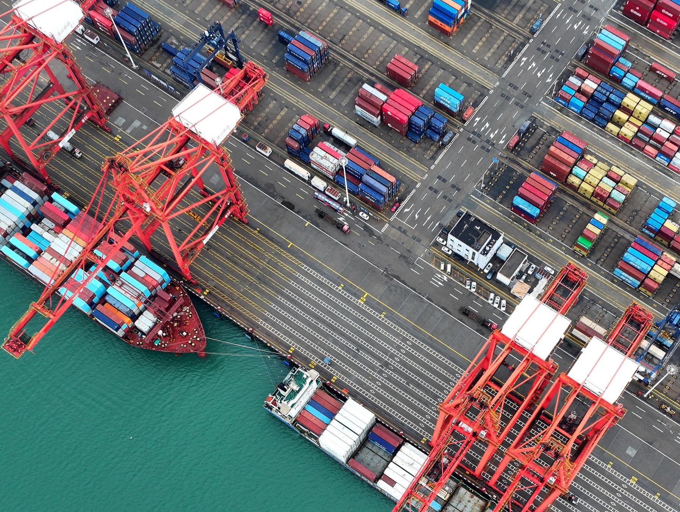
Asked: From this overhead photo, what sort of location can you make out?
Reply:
port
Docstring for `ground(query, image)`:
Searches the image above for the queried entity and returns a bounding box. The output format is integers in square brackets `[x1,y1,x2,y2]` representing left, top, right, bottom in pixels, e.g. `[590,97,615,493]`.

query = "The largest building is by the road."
[447,210,504,268]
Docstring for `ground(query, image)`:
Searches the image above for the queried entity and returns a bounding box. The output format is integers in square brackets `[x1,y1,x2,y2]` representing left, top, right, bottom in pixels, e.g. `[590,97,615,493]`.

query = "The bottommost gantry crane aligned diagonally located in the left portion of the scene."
[0,61,270,376]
